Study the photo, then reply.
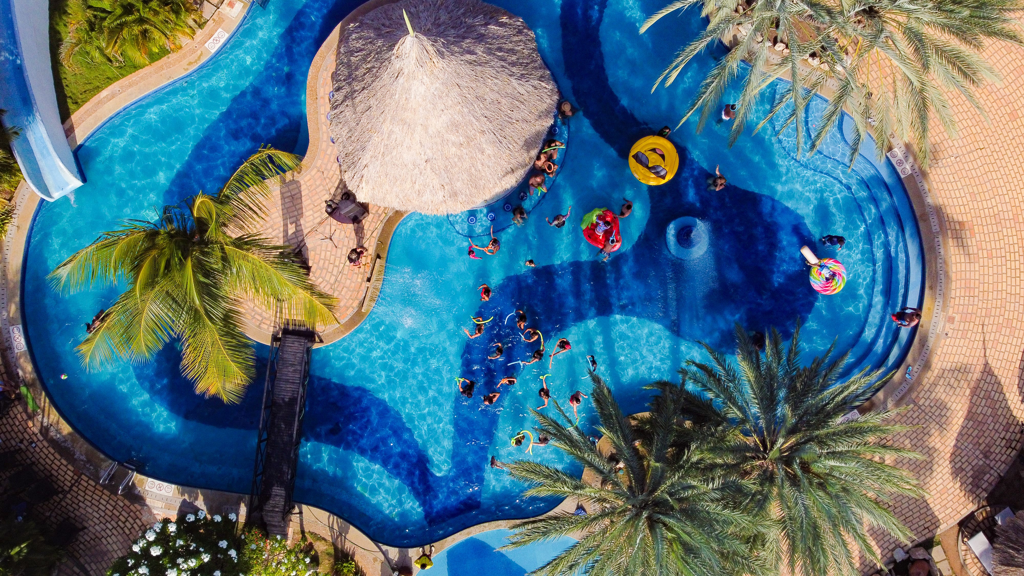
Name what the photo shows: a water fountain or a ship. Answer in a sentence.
Of the two, only a water fountain appears.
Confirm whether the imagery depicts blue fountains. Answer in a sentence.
Yes, there is a blue fountain in the image.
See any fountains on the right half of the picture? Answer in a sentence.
Yes, I can see a fountain on the right half of the picture.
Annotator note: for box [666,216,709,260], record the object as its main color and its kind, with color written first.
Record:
blue fountain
